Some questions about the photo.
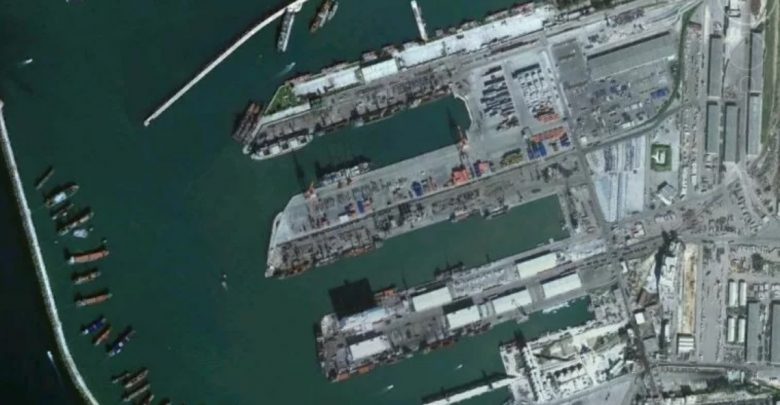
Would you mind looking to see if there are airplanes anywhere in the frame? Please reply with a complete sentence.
No, there's no airplane here.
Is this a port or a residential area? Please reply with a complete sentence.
It's a port.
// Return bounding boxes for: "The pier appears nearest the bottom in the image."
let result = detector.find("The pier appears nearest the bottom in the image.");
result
[404,372,508,405]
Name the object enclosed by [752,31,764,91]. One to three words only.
building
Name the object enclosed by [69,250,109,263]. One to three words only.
ship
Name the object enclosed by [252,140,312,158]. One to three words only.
ship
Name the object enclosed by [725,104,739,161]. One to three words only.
building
